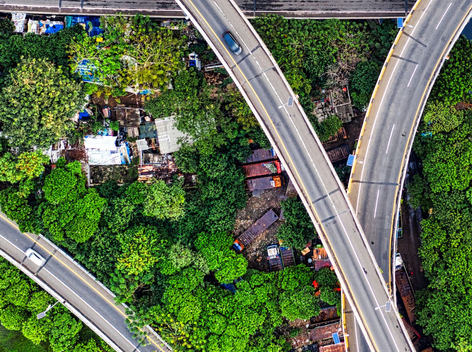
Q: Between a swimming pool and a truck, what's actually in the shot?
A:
truck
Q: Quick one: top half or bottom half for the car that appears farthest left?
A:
bottom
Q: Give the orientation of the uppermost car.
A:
diagonally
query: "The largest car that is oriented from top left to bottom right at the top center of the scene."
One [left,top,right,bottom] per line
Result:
[222,30,243,55]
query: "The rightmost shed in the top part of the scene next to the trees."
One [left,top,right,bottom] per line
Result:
[334,98,355,121]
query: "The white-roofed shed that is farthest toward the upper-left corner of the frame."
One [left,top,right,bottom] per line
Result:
[11,13,32,32]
